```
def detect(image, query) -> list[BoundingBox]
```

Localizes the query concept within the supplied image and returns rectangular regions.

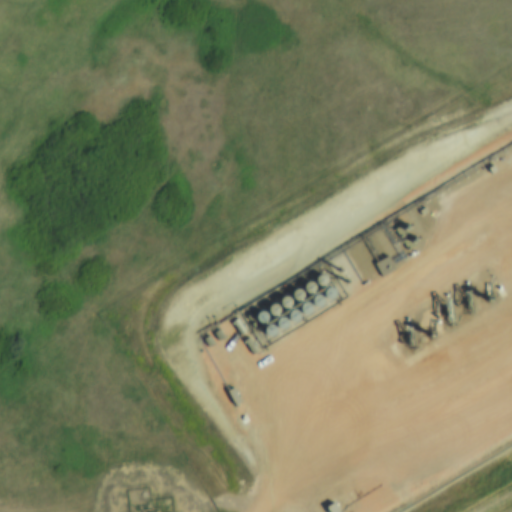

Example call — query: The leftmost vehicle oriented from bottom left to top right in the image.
[226,336,240,352]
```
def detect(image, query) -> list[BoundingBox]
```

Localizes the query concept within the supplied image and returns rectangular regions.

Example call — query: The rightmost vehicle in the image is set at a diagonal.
[258,355,275,368]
